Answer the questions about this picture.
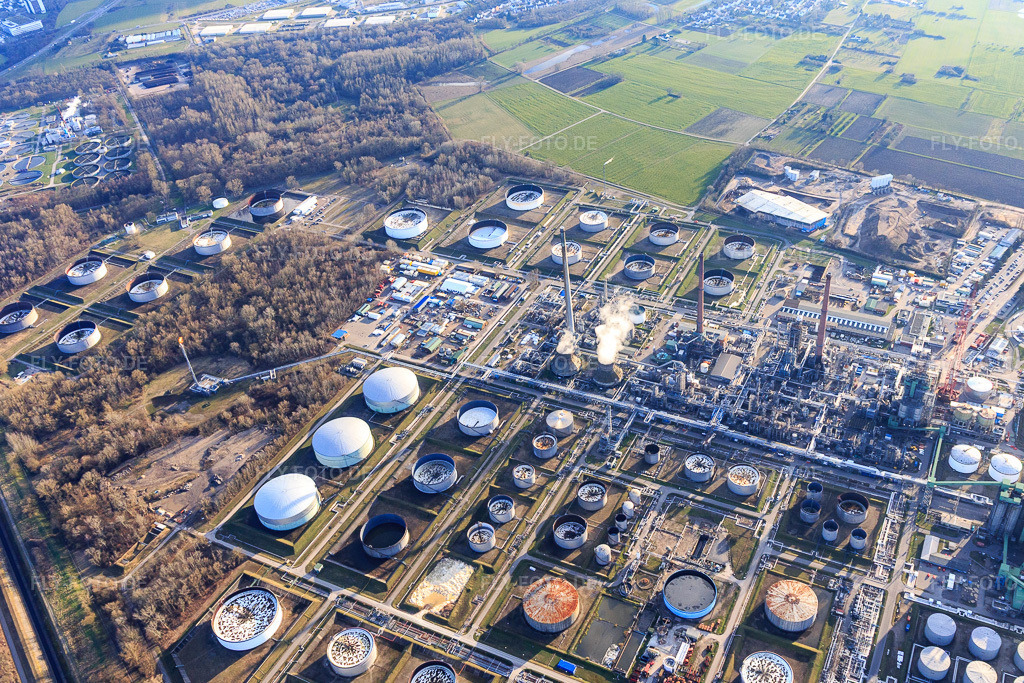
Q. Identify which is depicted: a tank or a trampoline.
tank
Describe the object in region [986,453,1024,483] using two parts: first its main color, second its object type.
white storage tank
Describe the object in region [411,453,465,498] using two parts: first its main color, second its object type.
blue storage tank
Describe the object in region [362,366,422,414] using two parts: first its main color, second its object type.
white storage tank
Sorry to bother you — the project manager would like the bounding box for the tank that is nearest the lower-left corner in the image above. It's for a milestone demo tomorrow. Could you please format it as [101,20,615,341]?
[210,586,282,651]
